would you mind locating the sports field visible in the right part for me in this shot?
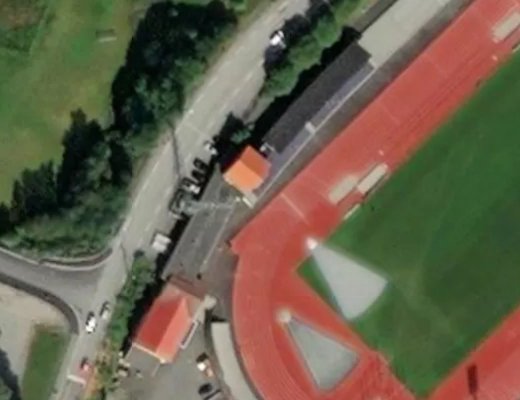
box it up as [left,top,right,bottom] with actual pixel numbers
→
[295,48,520,400]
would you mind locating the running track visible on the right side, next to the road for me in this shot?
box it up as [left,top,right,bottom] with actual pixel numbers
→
[226,0,520,400]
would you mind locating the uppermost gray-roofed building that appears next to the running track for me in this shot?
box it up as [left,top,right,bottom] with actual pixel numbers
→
[164,168,238,285]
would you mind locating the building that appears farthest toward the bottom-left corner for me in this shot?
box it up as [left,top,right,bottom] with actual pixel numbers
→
[133,284,204,363]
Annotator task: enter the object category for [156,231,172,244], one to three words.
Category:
vehicle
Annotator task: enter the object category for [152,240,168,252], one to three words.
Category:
vehicle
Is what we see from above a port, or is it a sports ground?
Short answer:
sports ground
